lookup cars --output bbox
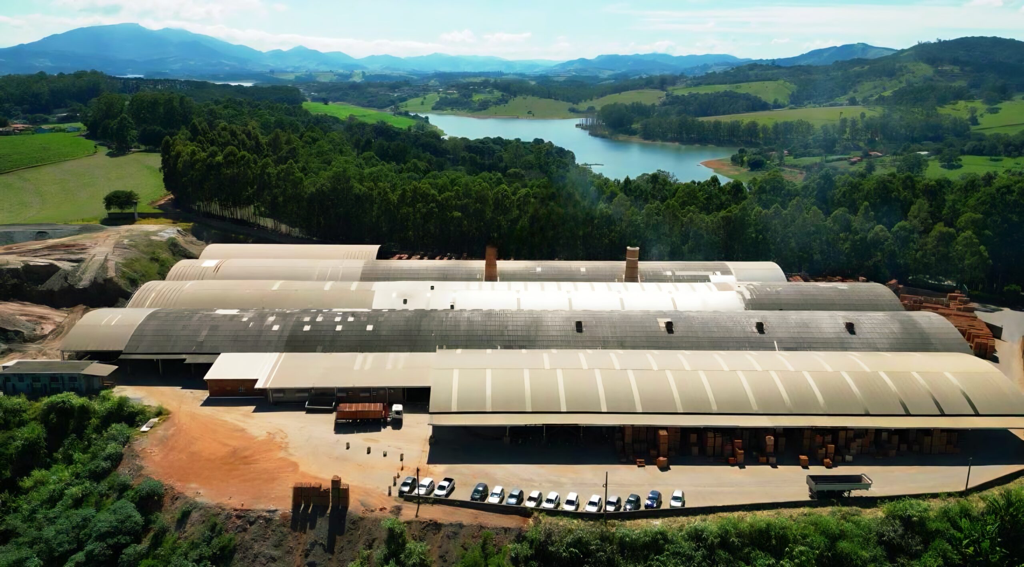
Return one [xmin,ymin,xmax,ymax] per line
[506,487,524,507]
[542,488,561,511]
[624,490,641,514]
[562,493,580,513]
[606,493,622,514]
[397,475,419,497]
[486,482,507,506]
[468,480,490,503]
[415,475,437,499]
[645,487,662,512]
[669,489,685,510]
[585,493,602,514]
[525,489,543,510]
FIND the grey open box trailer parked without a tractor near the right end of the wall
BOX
[808,475,874,502]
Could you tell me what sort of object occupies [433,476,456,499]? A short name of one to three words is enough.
vehicle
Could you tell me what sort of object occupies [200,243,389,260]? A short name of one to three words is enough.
shed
